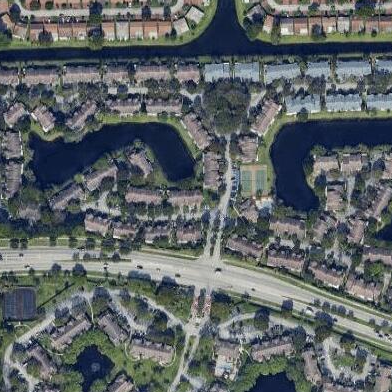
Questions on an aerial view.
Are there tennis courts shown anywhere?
Yes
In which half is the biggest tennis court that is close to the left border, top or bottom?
bottom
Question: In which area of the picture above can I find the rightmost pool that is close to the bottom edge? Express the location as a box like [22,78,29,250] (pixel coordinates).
[216,356,240,381]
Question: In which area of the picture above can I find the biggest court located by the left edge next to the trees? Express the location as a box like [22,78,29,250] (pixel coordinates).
[3,288,36,320]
